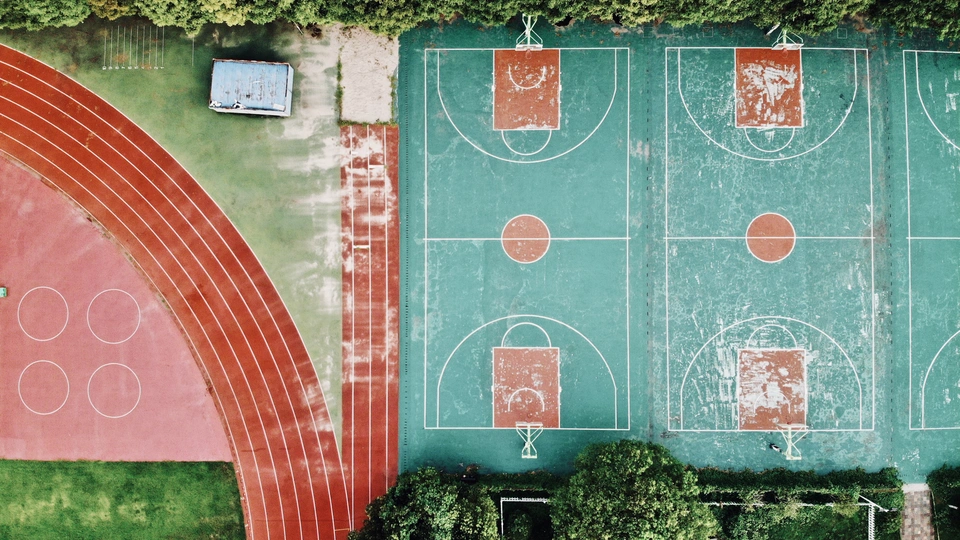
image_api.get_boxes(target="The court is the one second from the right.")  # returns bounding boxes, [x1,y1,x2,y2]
[665,47,875,431]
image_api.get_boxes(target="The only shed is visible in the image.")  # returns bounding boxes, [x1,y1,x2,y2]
[210,58,294,116]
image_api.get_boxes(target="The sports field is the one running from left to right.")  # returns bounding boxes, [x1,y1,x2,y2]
[0,459,248,540]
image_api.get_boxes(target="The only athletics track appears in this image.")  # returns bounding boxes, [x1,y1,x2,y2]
[0,42,351,540]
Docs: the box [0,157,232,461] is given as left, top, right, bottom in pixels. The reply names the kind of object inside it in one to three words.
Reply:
sports field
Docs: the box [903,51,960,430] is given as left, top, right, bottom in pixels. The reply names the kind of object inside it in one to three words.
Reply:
basketball court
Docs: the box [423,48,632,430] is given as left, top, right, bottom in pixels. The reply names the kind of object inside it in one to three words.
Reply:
basketball court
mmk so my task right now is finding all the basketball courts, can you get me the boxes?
[423,48,632,430]
[665,47,875,431]
[903,51,960,430]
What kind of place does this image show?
sports ground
